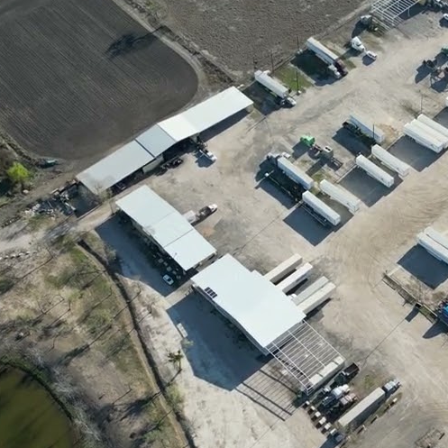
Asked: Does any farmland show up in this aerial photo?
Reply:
Yes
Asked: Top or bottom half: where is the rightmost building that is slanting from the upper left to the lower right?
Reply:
bottom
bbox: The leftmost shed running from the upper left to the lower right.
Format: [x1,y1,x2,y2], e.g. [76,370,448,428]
[116,186,216,277]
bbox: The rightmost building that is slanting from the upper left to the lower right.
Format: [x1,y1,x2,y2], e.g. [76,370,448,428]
[191,254,305,357]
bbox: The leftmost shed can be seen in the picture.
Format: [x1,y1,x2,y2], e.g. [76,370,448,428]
[77,141,154,203]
